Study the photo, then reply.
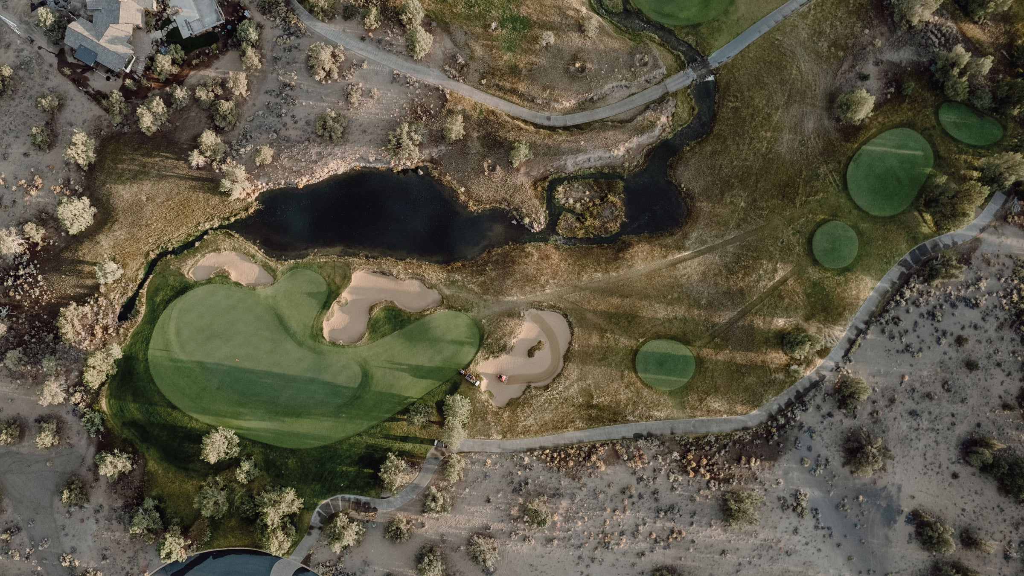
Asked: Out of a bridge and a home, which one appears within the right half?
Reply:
bridge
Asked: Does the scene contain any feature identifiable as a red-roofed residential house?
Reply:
No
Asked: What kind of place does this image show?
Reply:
golf course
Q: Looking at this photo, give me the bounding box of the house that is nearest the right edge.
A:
[170,0,226,39]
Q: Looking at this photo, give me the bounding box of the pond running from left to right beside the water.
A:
[120,81,714,319]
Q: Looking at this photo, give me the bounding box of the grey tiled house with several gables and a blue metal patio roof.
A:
[64,0,158,74]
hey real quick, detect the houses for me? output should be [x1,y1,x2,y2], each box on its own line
[170,0,226,39]
[64,0,158,74]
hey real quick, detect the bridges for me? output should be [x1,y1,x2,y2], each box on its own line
[685,55,717,87]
